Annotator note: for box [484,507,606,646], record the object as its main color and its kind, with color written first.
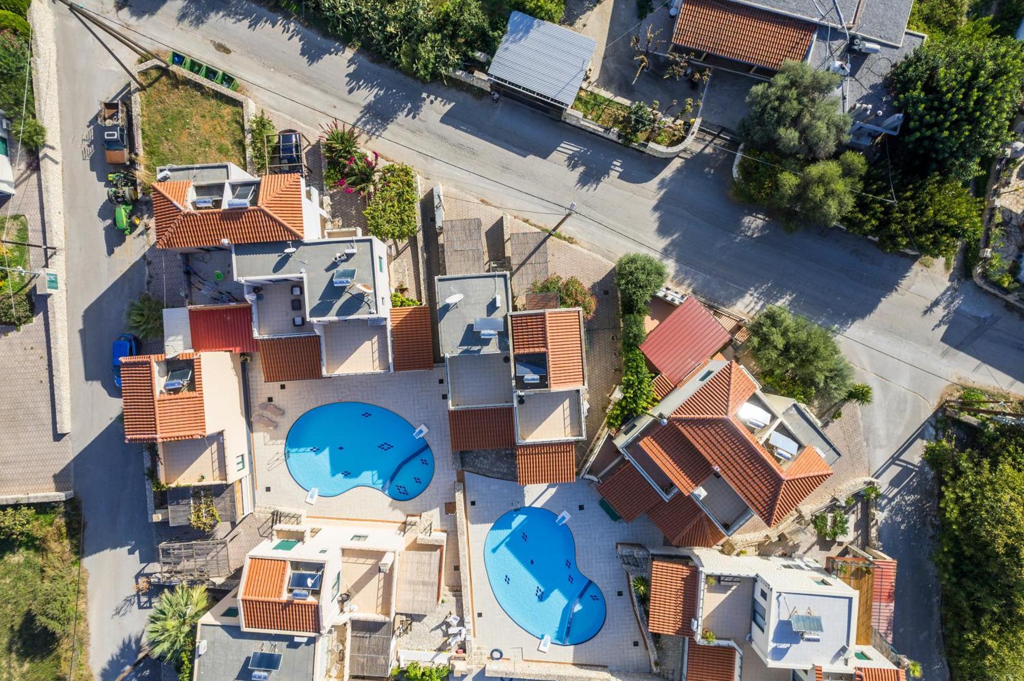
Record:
blue swimming pool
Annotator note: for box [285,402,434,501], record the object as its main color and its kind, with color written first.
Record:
blue swimming pool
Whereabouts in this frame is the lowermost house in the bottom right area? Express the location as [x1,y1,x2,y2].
[648,554,904,681]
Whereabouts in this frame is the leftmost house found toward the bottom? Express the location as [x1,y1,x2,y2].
[119,351,259,513]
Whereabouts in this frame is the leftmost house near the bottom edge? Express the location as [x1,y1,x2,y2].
[194,515,449,681]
